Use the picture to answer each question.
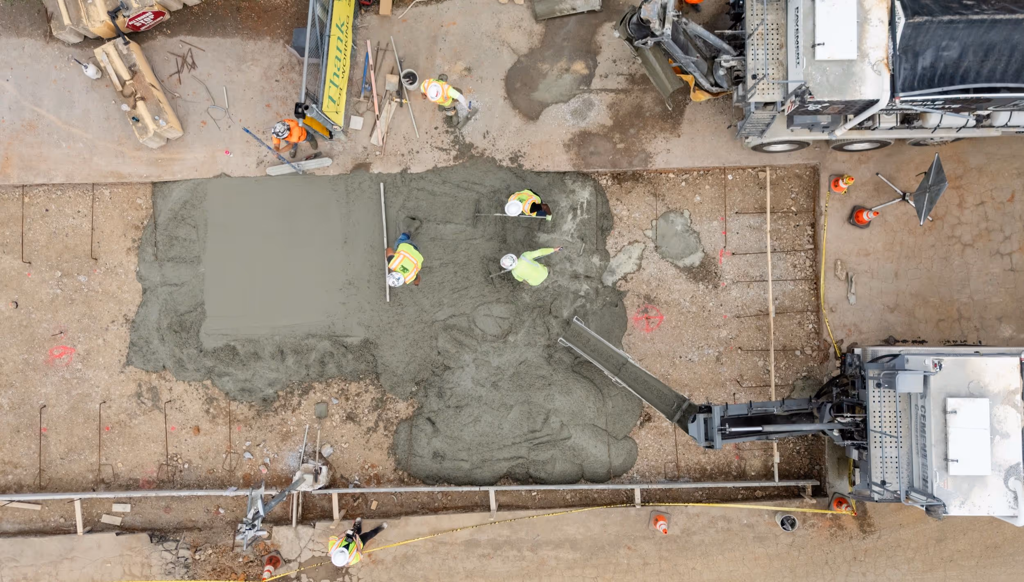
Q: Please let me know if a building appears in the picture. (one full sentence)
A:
No, the frame has no building in it.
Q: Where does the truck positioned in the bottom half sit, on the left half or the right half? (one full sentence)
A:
The truck positioned in the bottom half sits on the right side.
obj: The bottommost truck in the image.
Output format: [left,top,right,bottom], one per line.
[561,315,1024,531]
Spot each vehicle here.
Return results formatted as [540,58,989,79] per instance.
[613,0,1024,151]
[561,315,1024,531]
